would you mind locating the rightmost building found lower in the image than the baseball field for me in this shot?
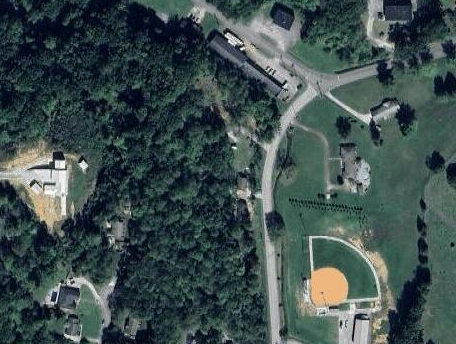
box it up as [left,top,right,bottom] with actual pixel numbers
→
[354,319,369,344]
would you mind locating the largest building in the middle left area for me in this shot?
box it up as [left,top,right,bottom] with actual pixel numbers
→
[27,159,67,194]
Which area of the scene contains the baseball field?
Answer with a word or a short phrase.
bottom right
